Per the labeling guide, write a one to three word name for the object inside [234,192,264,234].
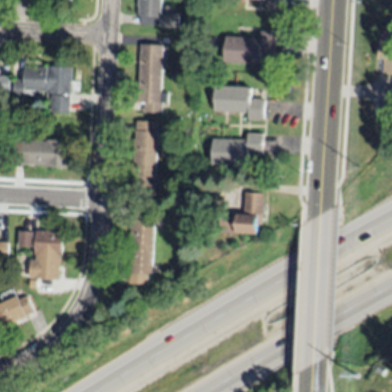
house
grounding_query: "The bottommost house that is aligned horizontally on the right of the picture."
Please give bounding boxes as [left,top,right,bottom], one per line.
[210,132,266,164]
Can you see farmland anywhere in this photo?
No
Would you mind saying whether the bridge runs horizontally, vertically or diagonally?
vertically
